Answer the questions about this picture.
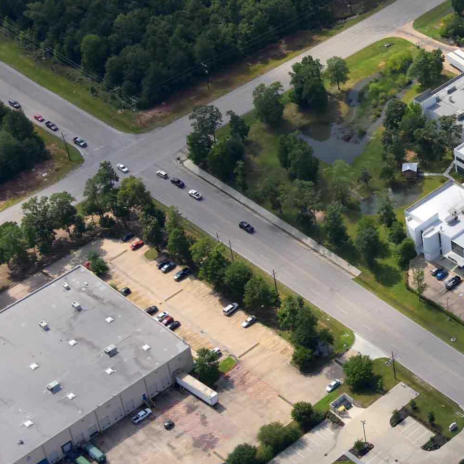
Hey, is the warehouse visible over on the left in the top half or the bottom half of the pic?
bottom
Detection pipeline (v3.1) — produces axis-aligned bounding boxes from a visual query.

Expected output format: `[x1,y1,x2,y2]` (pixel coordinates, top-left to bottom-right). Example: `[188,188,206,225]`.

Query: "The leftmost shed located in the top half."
[399,161,419,184]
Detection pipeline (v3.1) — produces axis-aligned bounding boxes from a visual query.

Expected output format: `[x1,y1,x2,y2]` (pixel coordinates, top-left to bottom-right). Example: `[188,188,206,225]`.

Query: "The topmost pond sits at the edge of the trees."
[298,73,416,162]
